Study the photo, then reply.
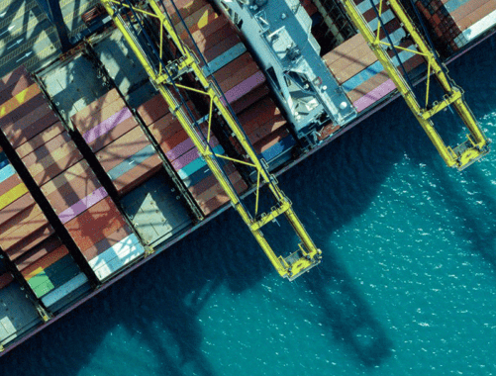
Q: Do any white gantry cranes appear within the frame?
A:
No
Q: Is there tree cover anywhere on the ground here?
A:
No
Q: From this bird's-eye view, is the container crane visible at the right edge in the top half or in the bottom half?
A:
top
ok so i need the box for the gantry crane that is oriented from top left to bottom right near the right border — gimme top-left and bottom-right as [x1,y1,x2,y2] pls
[333,0,492,173]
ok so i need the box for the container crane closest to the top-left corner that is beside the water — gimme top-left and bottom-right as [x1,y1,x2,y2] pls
[29,0,322,284]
